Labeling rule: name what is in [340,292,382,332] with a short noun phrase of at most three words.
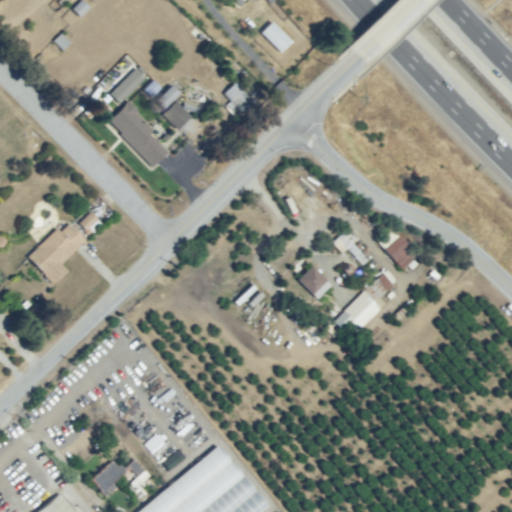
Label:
barn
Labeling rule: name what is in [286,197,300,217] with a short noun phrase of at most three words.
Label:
vehicle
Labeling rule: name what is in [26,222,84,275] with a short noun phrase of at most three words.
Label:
house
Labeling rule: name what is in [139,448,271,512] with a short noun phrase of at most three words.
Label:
greenhouse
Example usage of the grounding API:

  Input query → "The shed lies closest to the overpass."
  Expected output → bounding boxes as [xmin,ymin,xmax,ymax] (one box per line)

[263,21,294,52]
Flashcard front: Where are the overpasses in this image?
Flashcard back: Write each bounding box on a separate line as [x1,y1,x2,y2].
[340,0,443,78]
